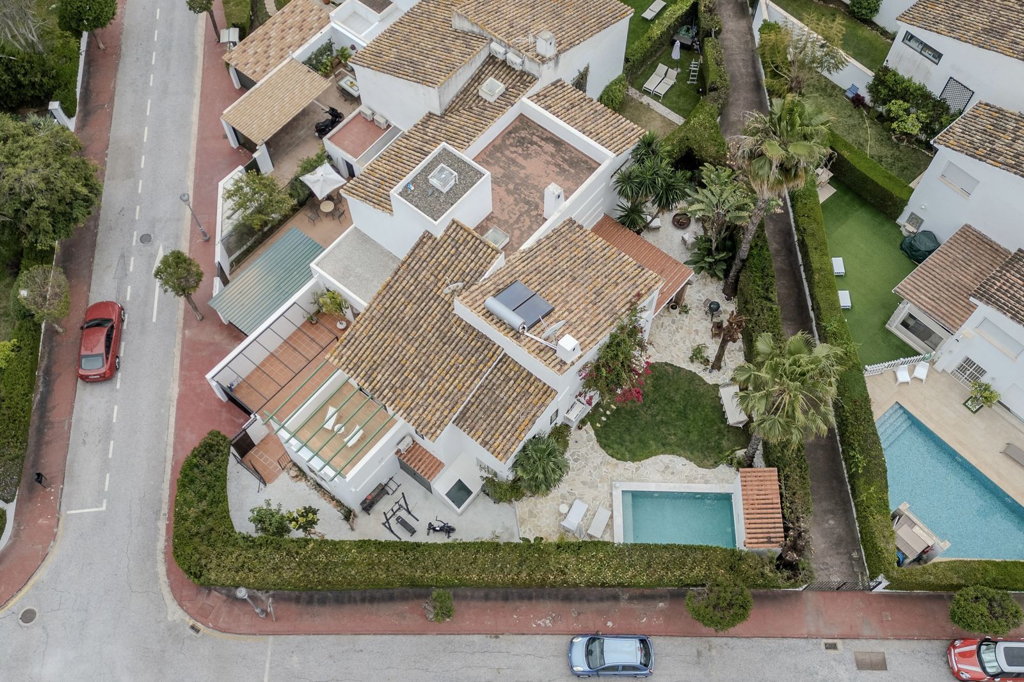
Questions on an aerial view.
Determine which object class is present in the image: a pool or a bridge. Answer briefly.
pool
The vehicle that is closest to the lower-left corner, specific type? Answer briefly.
automobile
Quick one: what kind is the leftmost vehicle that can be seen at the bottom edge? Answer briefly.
car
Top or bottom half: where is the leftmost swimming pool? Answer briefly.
bottom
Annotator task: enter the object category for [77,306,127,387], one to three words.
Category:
car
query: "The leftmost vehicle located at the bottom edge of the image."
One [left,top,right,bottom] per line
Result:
[569,630,655,679]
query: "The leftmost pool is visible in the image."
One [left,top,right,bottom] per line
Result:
[613,483,743,554]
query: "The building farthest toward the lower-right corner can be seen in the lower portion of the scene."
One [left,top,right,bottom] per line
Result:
[894,501,951,558]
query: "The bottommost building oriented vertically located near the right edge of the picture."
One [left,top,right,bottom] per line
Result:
[880,94,1024,427]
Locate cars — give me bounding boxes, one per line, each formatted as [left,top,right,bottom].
[942,633,1024,682]
[77,306,127,387]
[569,630,655,679]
